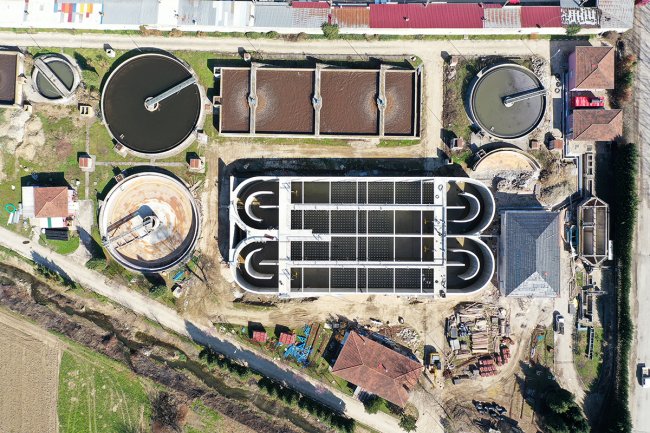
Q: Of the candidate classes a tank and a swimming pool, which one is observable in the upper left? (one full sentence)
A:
Looking in the upper left, you will find a tank.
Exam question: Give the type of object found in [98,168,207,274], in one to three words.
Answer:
storage tank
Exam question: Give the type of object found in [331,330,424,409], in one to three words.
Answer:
house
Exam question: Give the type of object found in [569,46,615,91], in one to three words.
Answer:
house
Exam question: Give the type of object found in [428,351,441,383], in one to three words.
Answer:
vehicle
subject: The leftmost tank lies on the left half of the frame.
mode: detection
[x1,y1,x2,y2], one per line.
[29,52,82,105]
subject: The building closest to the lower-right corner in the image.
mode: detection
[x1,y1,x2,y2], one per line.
[500,210,560,297]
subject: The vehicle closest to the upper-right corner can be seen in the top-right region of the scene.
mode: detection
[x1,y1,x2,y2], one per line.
[570,95,600,107]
